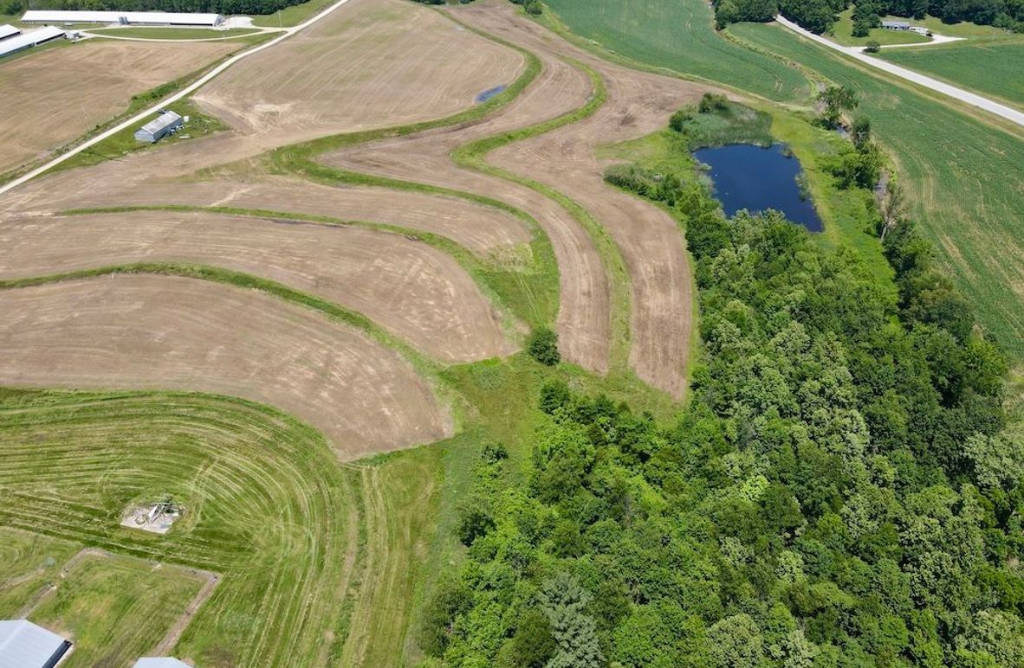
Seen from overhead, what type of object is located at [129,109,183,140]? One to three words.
shed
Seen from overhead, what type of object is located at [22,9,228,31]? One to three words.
barn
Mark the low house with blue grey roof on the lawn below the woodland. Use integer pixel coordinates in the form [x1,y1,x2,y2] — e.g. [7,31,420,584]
[875,17,913,34]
